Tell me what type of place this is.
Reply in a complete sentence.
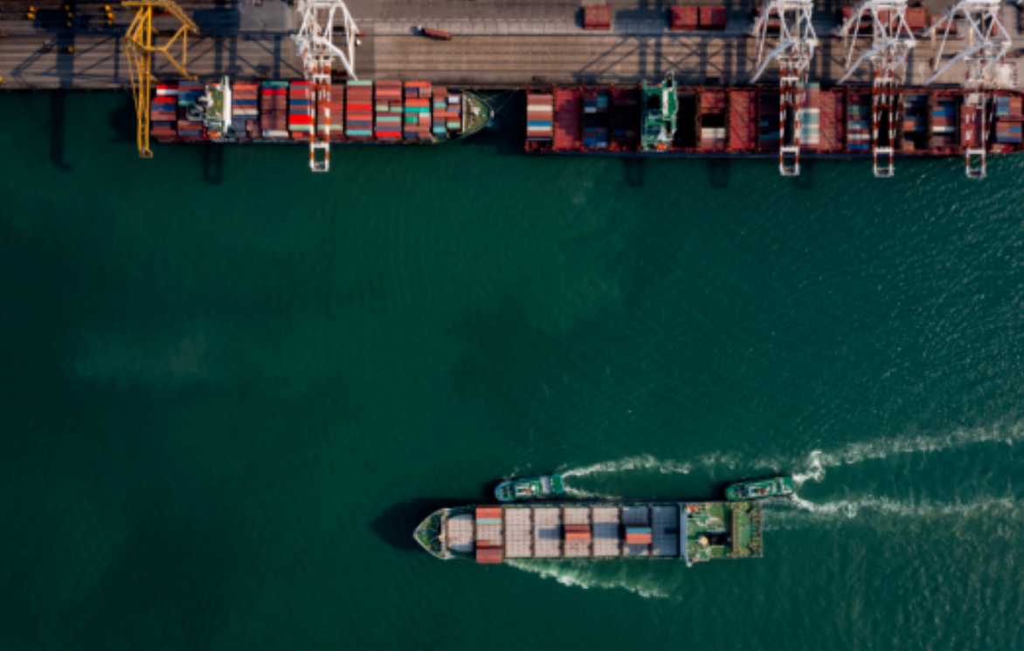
This image shows a port.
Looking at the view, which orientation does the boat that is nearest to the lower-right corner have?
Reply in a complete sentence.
The boat that is nearest to the lower-right corner is laid out horizontally.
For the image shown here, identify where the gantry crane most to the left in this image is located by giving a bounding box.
[118,0,198,160]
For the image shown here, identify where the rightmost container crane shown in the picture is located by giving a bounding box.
[916,0,1020,178]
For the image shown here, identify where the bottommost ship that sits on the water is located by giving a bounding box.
[413,500,762,568]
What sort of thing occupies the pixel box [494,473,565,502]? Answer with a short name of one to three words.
boat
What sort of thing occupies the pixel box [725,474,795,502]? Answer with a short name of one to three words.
boat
